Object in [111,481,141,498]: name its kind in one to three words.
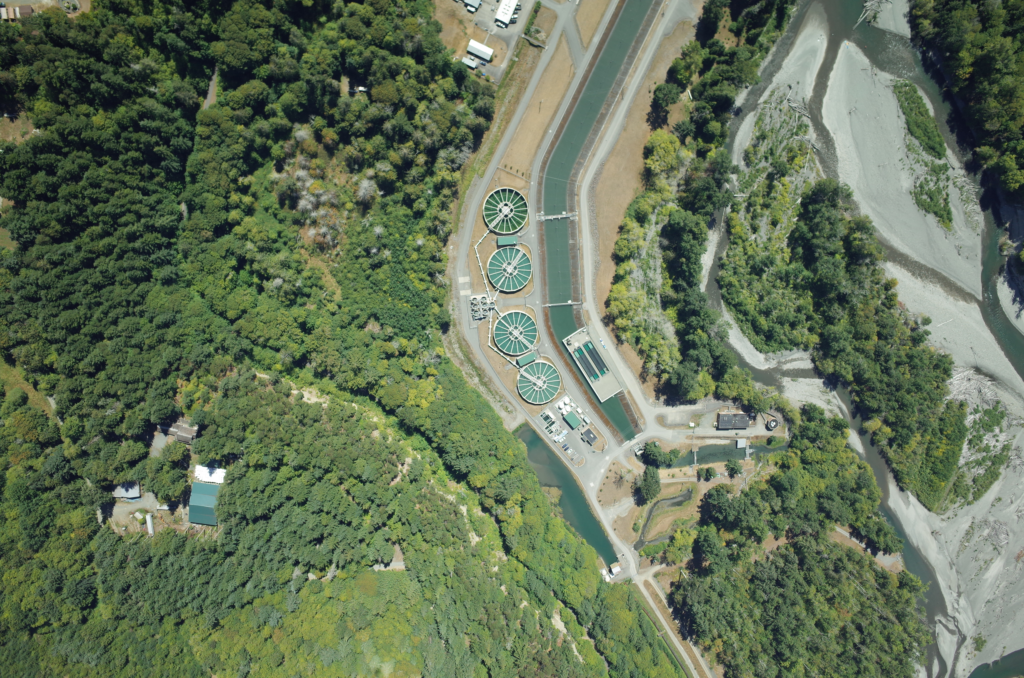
shed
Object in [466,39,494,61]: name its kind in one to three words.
house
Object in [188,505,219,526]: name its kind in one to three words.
barn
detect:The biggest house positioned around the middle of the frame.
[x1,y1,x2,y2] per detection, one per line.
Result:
[562,326,626,402]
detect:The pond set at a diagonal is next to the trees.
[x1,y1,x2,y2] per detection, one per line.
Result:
[516,423,614,567]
